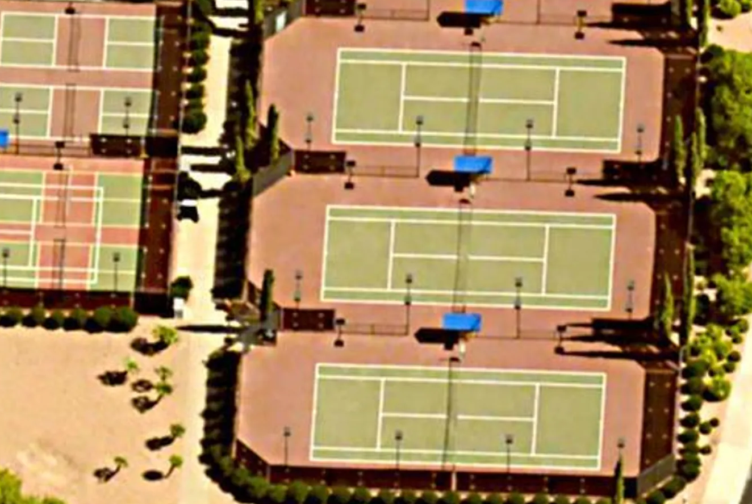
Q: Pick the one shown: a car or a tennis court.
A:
tennis court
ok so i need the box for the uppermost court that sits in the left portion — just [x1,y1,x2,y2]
[0,12,165,72]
